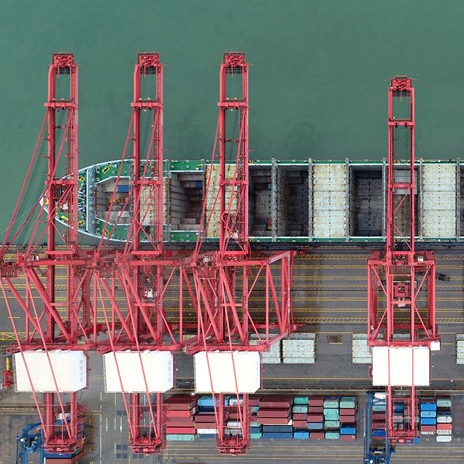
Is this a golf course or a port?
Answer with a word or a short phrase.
port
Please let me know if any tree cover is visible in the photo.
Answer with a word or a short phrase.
No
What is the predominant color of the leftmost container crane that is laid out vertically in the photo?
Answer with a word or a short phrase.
red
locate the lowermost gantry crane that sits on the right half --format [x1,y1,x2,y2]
[362,391,395,464]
